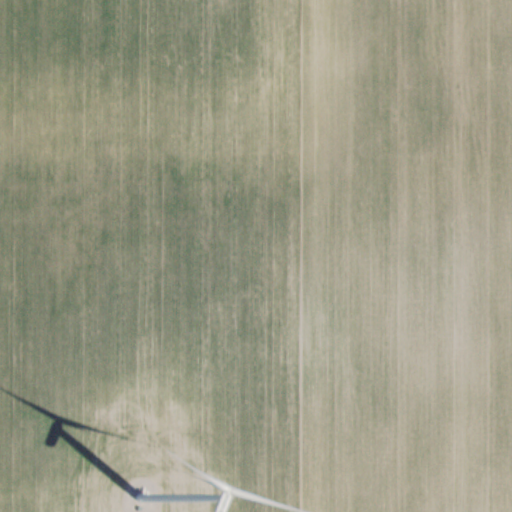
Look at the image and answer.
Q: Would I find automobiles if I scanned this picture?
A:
No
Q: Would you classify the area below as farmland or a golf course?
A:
farmland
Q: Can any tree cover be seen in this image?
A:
No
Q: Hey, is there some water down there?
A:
No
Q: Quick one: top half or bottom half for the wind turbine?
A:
bottom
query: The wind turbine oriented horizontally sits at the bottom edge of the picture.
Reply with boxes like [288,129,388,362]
[133,451,305,512]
